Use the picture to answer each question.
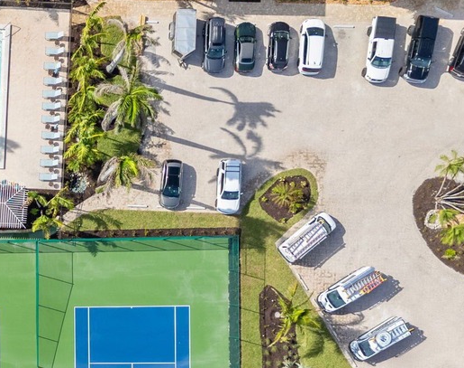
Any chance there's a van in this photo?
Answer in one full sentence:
Yes, the image includes a van.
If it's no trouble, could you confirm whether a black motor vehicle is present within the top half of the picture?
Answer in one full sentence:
Yes, the scene does show a black motor vehicle within the top half of the picture.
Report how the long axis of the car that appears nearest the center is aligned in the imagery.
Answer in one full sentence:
In this picture, the car that appears nearest the center is oriented vertically.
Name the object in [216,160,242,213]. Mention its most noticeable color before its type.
white car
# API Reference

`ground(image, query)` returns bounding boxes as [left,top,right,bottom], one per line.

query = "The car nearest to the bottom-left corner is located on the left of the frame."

[159,159,184,210]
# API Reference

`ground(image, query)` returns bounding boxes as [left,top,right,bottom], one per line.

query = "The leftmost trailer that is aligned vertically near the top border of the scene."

[168,15,197,77]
